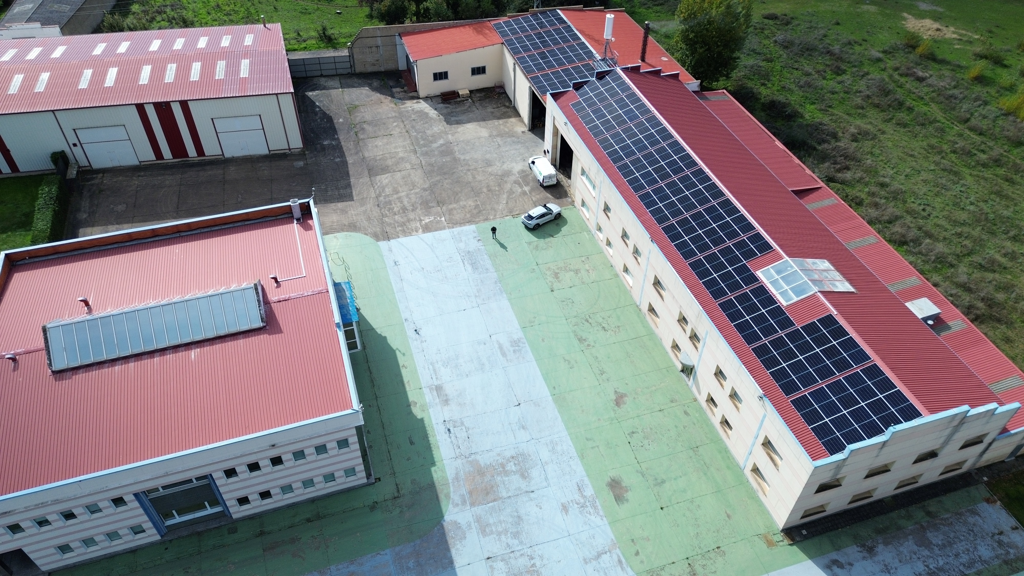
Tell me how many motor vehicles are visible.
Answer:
2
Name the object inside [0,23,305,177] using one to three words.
warehouse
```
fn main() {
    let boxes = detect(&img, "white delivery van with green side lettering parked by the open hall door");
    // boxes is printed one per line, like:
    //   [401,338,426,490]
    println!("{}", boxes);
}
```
[530,159,557,187]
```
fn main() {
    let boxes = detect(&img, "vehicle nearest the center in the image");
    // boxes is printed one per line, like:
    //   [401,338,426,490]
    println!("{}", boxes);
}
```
[519,203,563,230]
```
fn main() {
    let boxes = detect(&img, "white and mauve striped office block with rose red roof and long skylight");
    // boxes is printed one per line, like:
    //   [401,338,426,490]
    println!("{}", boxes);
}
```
[0,199,375,576]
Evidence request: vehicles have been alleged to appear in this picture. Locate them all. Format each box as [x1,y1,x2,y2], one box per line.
[530,159,557,187]
[519,203,563,230]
